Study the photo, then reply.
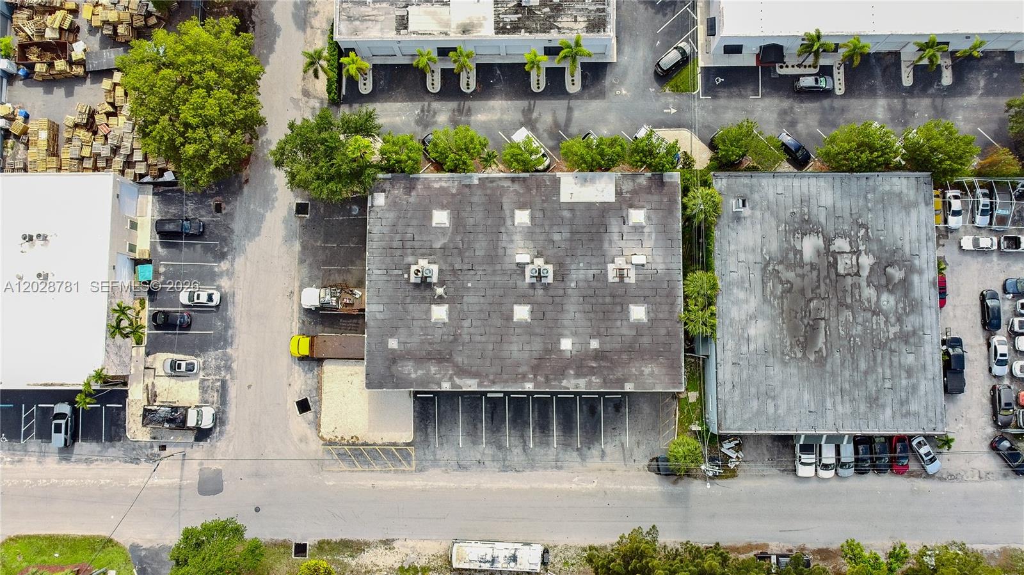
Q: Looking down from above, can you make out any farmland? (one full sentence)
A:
No, there is no farmland in the image.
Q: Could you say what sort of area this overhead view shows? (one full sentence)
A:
The picture captures an industrial area.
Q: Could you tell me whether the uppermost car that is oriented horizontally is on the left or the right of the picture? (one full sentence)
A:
It is on the right.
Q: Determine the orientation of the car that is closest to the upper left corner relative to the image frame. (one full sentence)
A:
The car that is closest to the upper left corner is laid out horizontally.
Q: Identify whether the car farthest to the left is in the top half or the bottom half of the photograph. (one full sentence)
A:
Seen from above, the car farthest to the left lies in the bottom half of the view.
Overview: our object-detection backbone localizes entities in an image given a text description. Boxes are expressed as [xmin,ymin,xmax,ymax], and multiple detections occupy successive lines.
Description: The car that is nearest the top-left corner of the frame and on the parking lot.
[153,215,205,236]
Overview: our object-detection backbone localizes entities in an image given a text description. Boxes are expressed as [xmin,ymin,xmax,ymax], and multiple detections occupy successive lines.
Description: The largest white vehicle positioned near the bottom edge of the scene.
[450,539,548,572]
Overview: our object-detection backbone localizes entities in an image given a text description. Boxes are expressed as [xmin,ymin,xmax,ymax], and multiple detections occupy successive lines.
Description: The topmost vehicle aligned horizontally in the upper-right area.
[792,72,835,93]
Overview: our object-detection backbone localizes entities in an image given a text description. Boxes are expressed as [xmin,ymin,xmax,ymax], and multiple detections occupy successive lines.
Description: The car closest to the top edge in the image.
[652,40,693,78]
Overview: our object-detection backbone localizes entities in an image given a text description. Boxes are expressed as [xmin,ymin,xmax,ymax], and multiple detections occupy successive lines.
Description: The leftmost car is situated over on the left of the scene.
[50,401,75,449]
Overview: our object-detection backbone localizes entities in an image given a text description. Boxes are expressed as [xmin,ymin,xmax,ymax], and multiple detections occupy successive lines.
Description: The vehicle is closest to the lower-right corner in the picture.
[989,435,1024,477]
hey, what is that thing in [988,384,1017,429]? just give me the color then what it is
gray car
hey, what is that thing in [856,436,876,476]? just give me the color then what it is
black car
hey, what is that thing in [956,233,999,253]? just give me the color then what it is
white car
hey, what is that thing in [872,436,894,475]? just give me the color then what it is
black car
